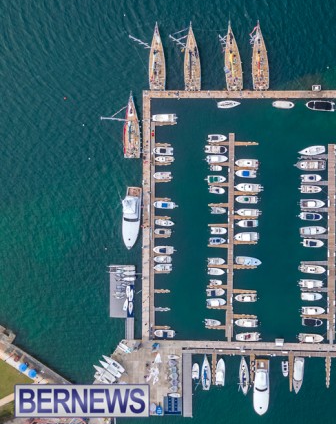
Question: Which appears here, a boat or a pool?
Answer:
boat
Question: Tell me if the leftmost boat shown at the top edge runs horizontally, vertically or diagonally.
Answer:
vertically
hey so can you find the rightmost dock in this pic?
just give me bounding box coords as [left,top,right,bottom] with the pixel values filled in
[298,144,336,343]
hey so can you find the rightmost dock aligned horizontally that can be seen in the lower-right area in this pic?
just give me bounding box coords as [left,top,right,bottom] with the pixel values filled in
[183,340,336,391]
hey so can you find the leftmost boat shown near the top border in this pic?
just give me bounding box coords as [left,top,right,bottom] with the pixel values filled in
[132,21,166,90]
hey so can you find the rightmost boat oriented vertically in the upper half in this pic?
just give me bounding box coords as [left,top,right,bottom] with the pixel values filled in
[251,19,271,92]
